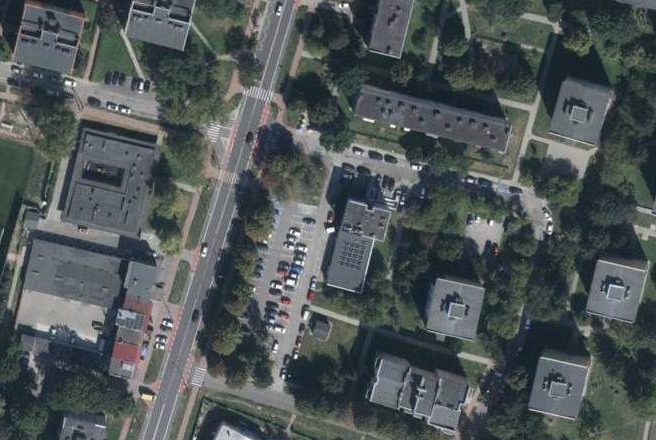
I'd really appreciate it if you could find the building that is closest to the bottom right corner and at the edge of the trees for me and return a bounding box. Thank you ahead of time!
[529,349,588,420]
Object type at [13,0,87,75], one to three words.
building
